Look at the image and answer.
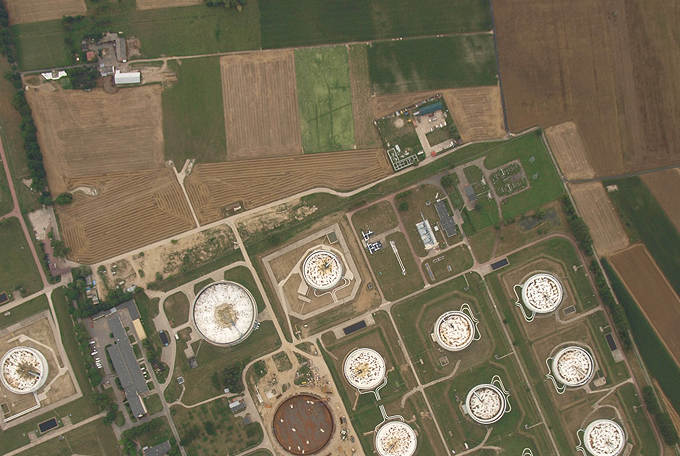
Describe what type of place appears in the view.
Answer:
industrial area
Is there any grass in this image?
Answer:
Yes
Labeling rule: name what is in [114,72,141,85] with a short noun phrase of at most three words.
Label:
barn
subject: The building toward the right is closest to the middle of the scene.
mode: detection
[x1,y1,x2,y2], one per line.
[416,213,438,249]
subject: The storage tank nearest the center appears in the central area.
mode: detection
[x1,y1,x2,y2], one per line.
[302,248,343,288]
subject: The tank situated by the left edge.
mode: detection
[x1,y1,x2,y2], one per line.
[0,347,49,393]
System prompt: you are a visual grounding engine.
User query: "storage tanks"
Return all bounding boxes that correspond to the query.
[522,274,564,315]
[0,347,49,393]
[345,347,387,389]
[302,248,343,288]
[270,391,337,456]
[465,383,507,425]
[375,419,417,456]
[191,280,257,346]
[582,418,625,456]
[434,310,475,352]
[551,346,594,388]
